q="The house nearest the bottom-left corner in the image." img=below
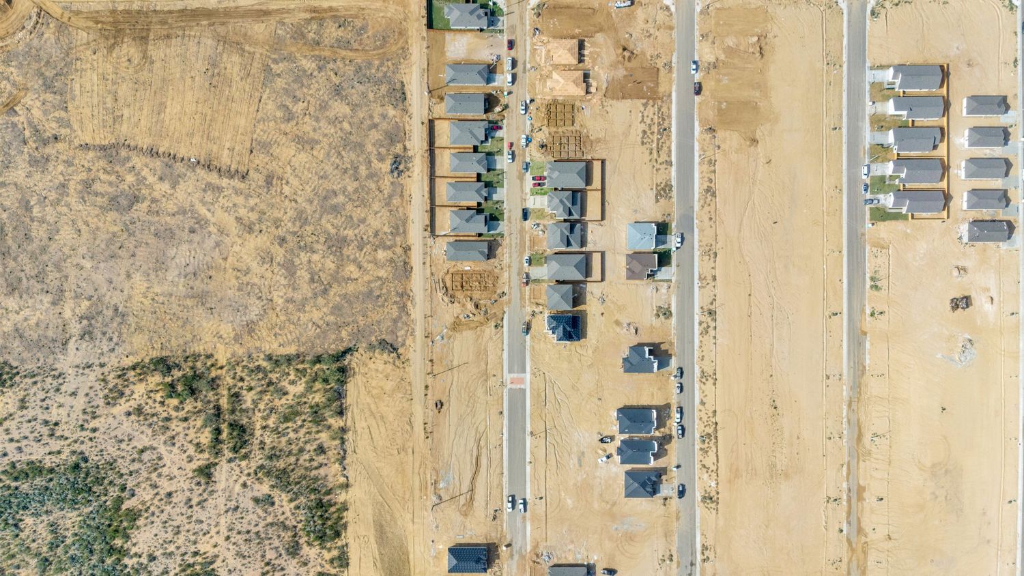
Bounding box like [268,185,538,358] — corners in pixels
[448,544,488,573]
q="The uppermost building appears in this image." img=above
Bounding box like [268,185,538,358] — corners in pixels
[444,3,490,30]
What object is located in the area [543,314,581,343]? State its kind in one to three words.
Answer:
house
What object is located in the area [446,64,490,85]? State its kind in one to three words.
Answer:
house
